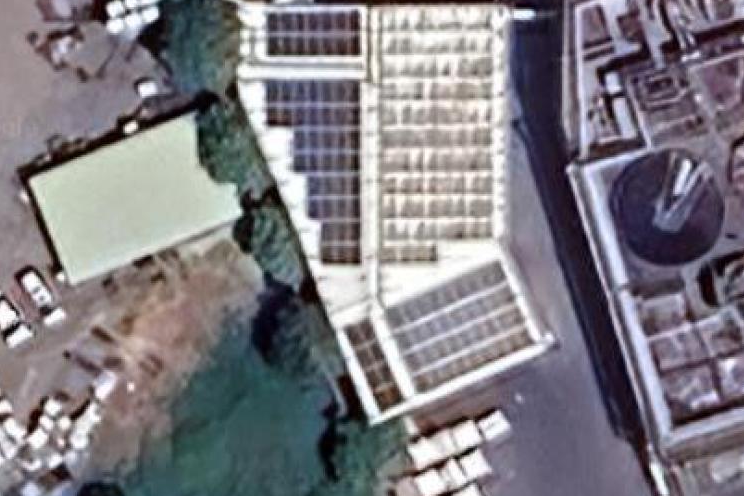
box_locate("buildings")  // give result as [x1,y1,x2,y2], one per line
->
[238,2,555,426]
[563,0,744,450]
[29,113,242,284]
